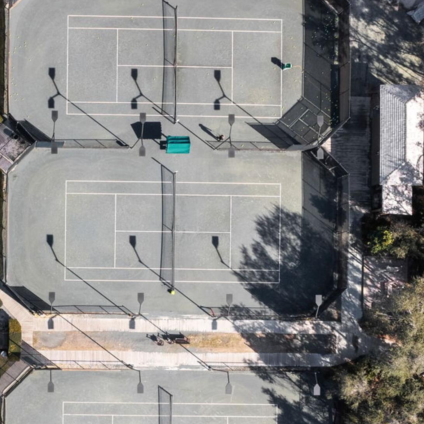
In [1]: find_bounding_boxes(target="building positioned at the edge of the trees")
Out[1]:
[368,85,424,215]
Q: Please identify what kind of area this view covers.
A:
sports ground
